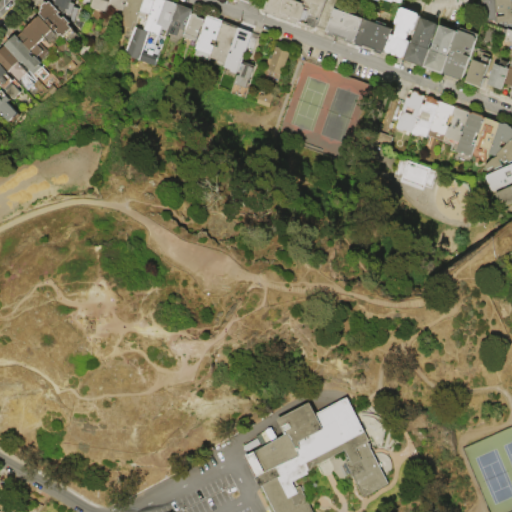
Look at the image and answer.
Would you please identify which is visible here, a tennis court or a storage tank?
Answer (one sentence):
This aerial view contains a tennis court.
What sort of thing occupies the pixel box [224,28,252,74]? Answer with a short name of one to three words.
house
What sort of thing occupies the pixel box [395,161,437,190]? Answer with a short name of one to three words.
building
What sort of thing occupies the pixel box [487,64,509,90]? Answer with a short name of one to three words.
house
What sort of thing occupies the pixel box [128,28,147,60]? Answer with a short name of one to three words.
shed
